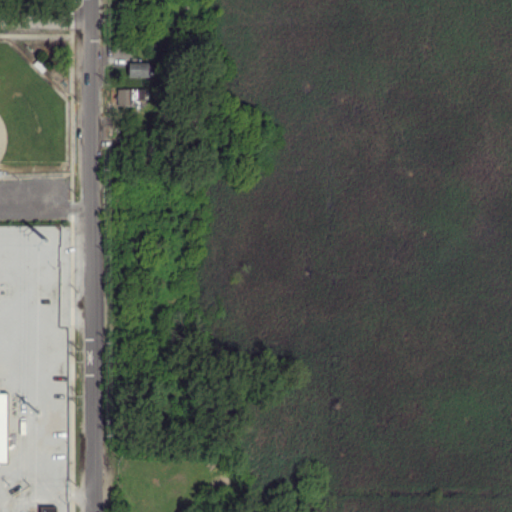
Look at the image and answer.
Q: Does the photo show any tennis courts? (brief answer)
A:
No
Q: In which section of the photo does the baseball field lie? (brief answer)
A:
top left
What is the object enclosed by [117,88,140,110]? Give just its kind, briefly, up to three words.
house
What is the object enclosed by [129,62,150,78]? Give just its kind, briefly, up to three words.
house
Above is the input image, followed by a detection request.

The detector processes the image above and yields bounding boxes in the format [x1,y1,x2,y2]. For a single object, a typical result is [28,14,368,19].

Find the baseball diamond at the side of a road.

[0,40,69,175]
